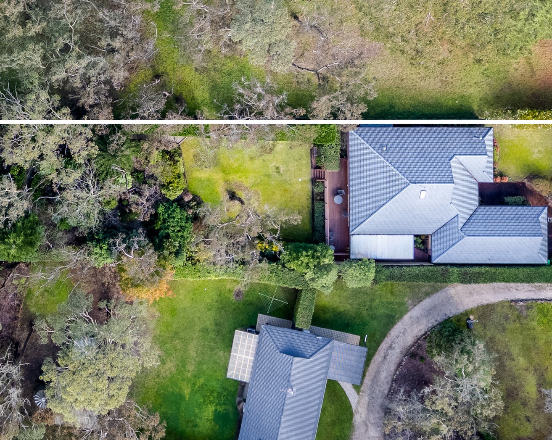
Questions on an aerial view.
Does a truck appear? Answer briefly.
No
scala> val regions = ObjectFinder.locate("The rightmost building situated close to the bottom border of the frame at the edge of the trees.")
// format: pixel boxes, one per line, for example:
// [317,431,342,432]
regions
[226,323,368,440]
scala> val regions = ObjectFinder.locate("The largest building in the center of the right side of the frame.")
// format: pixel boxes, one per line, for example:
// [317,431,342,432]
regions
[315,127,548,264]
